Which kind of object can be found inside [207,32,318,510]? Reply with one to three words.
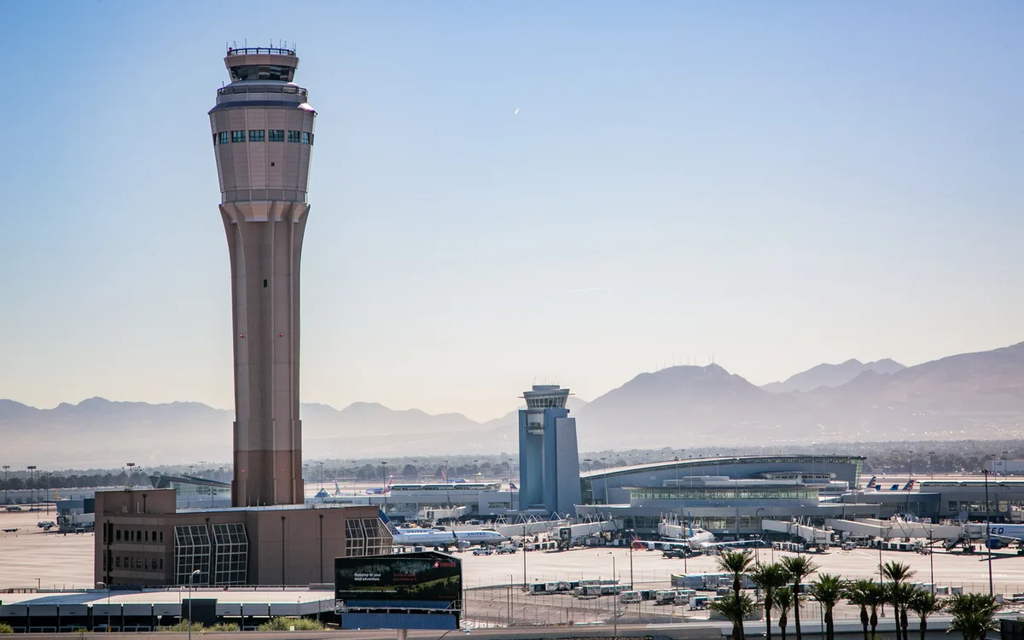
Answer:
building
